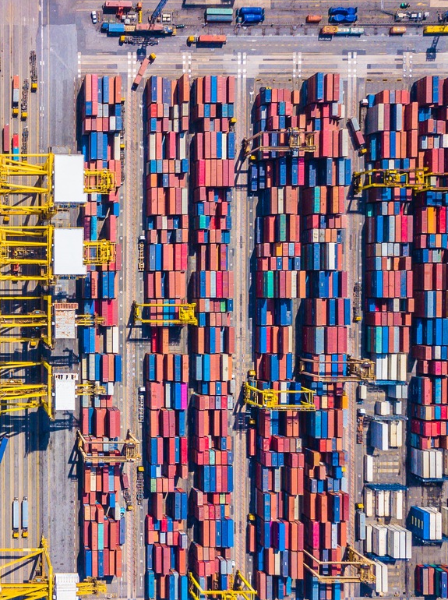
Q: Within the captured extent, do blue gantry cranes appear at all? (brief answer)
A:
No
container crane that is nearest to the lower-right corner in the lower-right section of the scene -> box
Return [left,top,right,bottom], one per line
[301,543,374,581]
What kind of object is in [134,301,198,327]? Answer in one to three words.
container crane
